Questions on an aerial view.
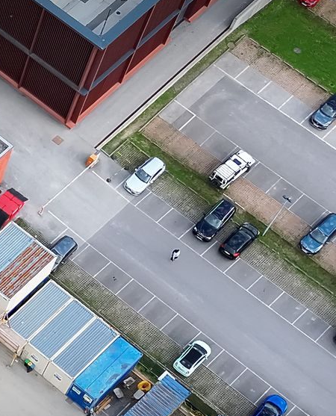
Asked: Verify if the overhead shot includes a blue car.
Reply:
Yes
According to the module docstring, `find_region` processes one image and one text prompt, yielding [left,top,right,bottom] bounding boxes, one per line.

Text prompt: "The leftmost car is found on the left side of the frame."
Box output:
[48,231,84,276]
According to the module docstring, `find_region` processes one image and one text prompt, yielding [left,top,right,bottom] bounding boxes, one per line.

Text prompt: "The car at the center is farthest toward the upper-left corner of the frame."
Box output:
[124,155,167,196]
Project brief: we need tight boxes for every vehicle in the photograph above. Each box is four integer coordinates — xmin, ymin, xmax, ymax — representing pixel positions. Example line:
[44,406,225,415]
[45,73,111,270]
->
[307,88,336,129]
[191,199,239,243]
[173,337,215,379]
[48,231,84,276]
[124,155,167,196]
[218,224,258,261]
[252,396,289,416]
[298,210,336,256]
[210,150,256,193]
